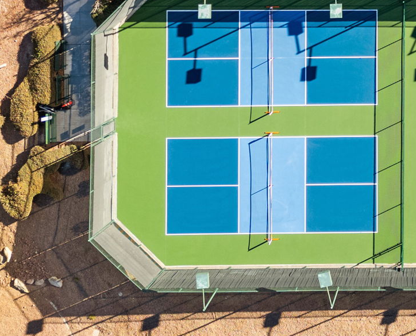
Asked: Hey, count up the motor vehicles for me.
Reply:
0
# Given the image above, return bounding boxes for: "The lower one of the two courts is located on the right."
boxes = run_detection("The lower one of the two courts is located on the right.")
[167,137,377,234]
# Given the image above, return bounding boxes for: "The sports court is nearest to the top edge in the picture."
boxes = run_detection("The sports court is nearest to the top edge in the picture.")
[167,10,377,106]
